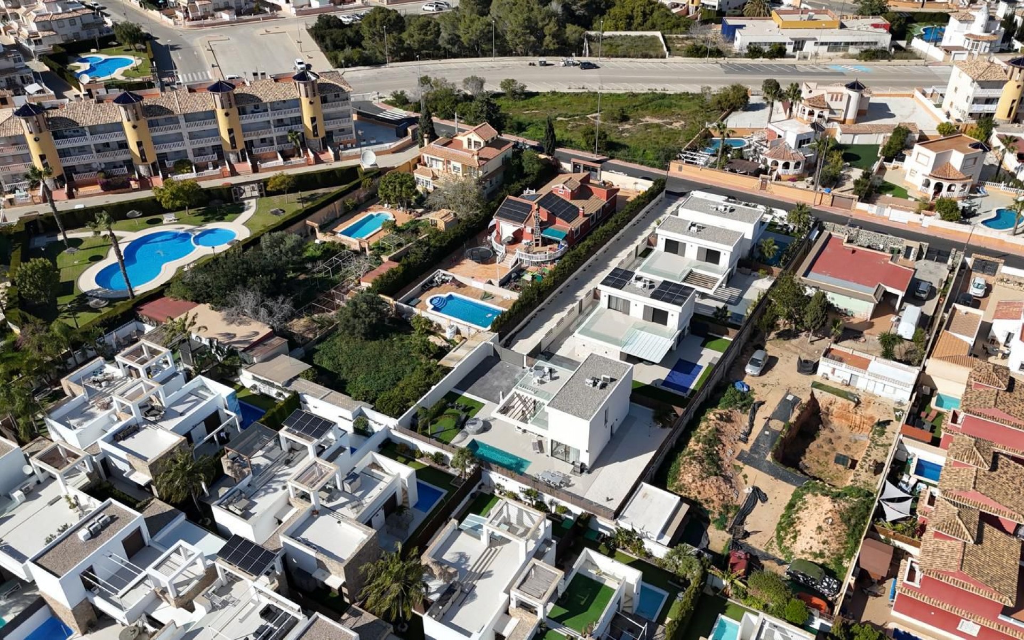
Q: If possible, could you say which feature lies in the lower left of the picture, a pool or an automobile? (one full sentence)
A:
The feature located in the lower left of the picture is a pool.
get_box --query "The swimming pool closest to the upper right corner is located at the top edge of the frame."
[921,27,943,42]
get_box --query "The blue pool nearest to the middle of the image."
[427,291,507,328]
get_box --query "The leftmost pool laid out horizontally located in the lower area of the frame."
[22,617,77,640]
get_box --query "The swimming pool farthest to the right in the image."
[977,206,1024,231]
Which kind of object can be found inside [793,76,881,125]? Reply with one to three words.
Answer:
house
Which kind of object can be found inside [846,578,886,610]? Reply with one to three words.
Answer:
umbrella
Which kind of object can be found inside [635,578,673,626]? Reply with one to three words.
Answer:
swimming pool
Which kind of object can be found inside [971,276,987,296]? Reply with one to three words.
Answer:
car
